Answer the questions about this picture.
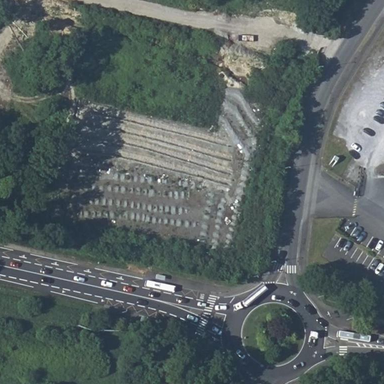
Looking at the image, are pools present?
No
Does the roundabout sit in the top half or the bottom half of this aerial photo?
bottom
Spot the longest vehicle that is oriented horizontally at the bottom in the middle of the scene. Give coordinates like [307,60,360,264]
[145,279,176,292]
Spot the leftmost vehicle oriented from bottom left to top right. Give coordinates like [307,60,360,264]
[234,284,268,312]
